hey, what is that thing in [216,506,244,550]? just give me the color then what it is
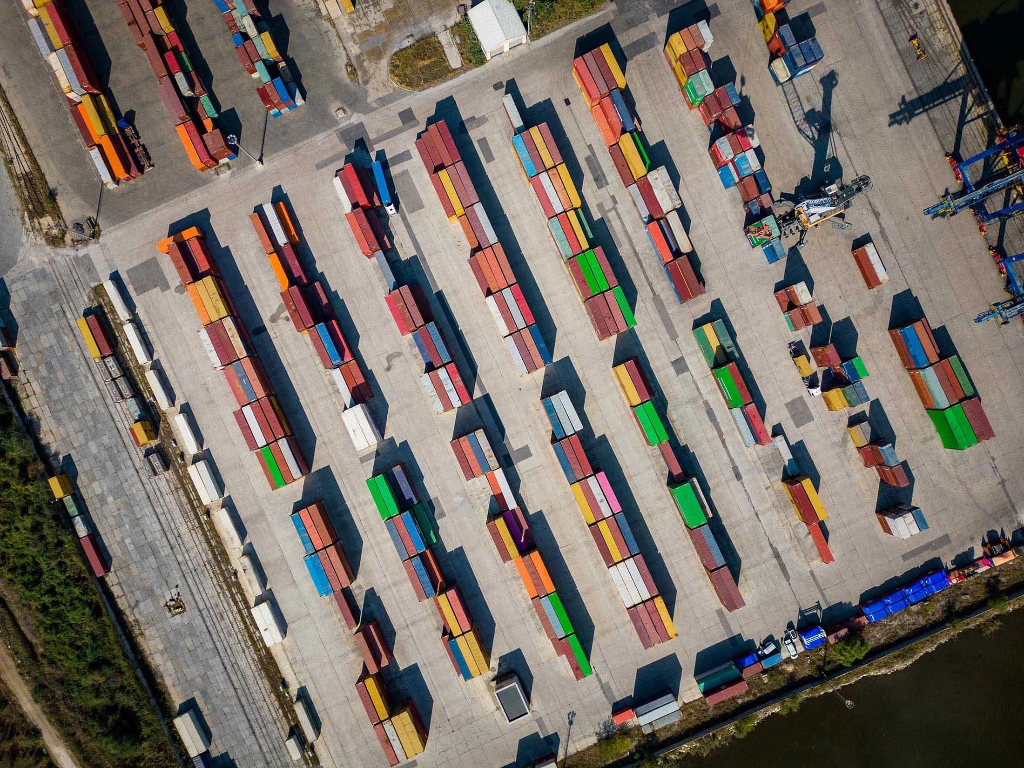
white shipping container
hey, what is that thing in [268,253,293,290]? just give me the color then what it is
orange shipping container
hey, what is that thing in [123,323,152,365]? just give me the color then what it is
white shipping container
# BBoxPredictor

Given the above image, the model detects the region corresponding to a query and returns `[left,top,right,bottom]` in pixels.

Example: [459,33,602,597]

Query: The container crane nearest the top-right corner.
[920,130,1024,237]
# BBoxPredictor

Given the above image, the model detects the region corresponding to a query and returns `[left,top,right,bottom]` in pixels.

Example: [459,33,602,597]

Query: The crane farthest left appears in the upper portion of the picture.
[764,178,874,247]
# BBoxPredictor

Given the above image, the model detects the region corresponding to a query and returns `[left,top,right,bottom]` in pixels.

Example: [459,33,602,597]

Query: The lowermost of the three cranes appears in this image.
[970,246,1024,326]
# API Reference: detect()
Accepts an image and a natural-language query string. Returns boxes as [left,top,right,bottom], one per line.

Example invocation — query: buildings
[468,0,528,57]
[495,676,530,724]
